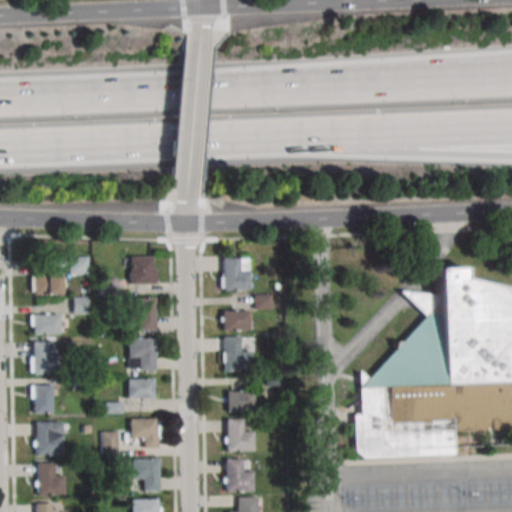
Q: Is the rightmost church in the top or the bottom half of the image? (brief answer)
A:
bottom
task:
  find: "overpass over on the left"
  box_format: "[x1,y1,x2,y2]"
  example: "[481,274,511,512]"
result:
[174,33,230,203]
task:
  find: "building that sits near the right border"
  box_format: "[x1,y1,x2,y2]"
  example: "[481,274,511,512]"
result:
[355,266,512,459]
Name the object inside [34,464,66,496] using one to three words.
house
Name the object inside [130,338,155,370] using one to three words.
house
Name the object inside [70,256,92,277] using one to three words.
building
